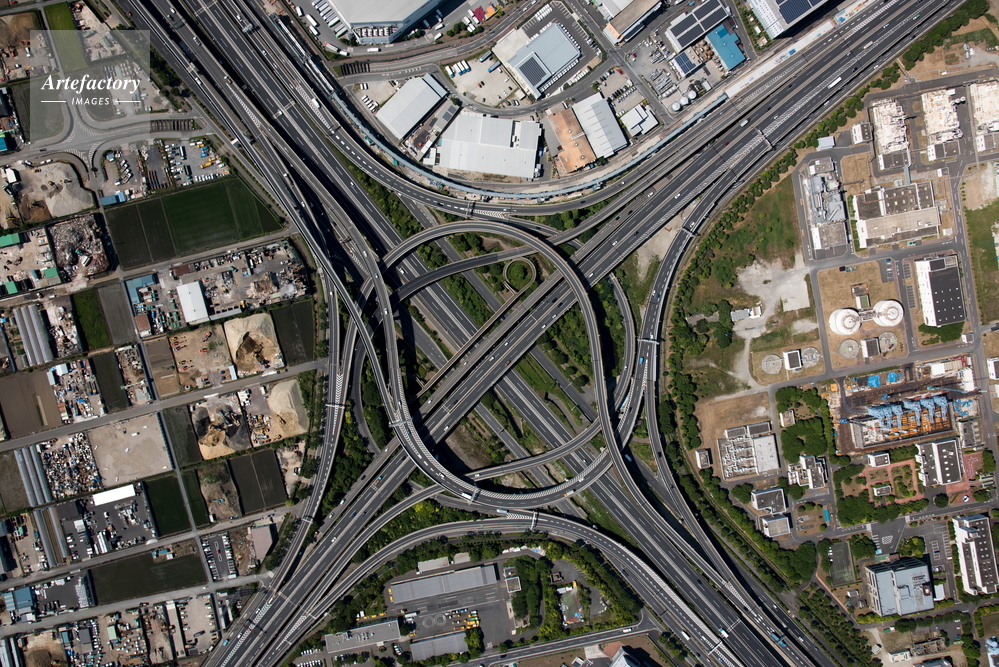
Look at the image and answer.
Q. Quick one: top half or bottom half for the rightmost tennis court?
bottom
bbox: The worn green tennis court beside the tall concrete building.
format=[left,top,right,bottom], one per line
[830,542,857,588]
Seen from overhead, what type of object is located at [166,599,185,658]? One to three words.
shed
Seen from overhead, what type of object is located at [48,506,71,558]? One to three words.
greenhouse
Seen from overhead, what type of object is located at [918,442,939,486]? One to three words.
building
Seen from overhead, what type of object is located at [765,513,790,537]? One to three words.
building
